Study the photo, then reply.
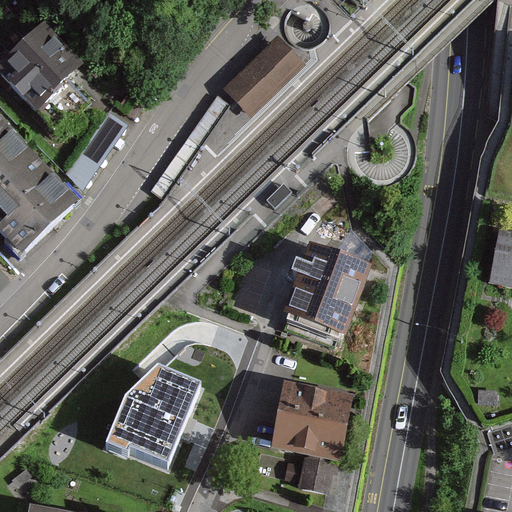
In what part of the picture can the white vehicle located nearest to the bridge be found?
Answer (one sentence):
The white vehicle located nearest to the bridge sits in the center section of the image.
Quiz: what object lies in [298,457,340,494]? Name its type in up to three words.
building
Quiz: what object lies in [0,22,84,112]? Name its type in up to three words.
house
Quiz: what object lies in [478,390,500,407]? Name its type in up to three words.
shed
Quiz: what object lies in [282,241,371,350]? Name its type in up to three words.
house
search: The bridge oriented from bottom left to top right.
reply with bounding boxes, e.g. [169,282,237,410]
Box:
[360,0,494,129]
